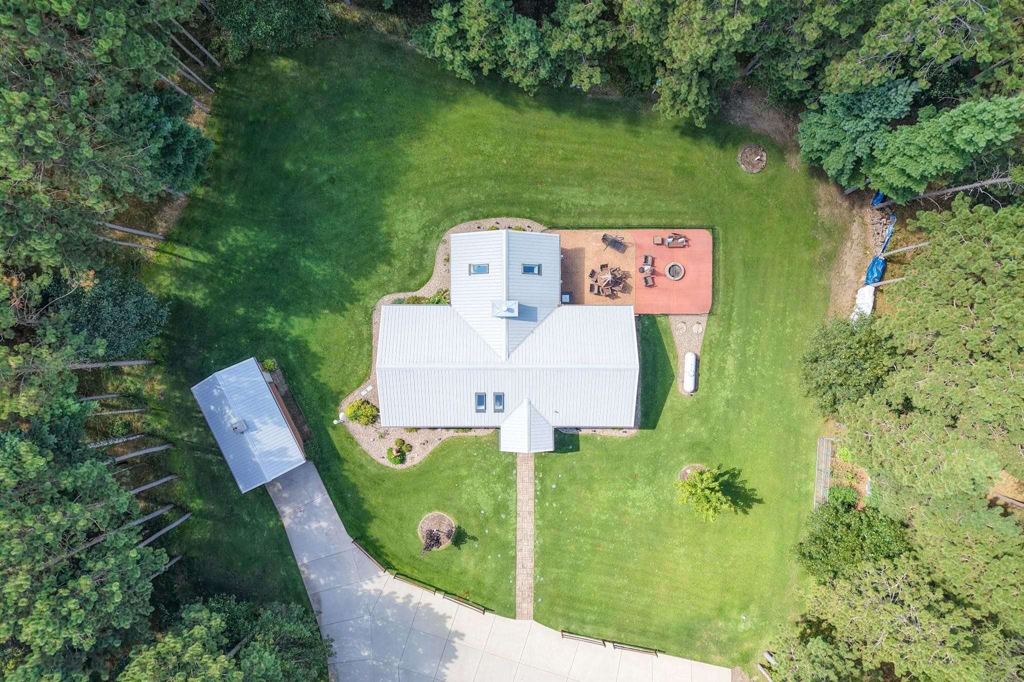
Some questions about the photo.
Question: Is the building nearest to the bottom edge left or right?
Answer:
left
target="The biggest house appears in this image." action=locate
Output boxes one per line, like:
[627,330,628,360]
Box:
[375,229,640,454]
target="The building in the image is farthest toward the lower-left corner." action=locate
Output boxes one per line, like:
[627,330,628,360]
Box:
[190,357,308,494]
